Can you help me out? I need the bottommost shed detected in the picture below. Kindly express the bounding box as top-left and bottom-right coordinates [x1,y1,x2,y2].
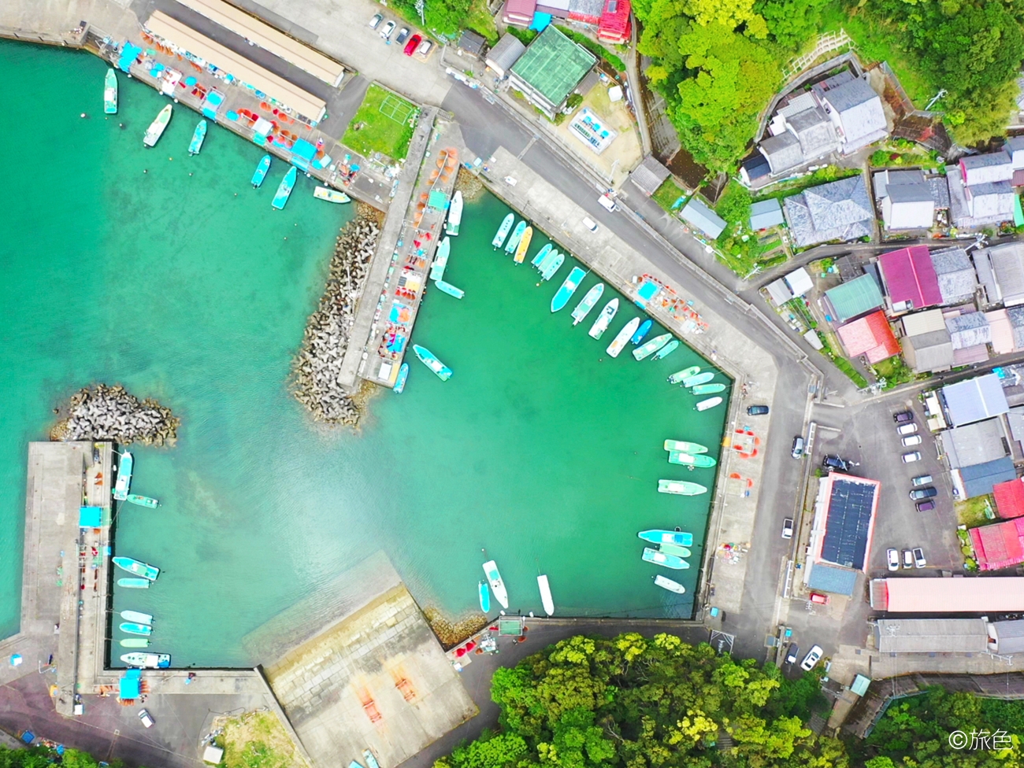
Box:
[202,743,226,765]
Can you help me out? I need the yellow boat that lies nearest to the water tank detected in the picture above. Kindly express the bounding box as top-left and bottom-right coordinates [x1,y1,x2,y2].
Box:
[513,226,532,265]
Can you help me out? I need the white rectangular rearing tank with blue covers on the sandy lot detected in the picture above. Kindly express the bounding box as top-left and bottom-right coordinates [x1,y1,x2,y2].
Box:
[567,108,617,156]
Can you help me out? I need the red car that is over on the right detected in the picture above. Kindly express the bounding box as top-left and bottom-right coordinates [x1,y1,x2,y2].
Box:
[809,591,829,606]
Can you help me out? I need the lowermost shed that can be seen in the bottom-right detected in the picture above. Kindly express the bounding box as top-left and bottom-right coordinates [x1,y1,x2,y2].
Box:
[845,674,871,698]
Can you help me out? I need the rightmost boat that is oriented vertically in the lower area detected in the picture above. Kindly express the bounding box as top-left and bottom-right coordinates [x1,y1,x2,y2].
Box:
[537,574,554,616]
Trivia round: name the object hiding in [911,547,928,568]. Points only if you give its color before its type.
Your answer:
white vehicle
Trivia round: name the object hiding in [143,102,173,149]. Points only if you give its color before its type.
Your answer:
white boat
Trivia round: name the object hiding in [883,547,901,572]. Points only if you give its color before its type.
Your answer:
white car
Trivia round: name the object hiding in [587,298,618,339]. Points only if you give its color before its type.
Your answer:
white boat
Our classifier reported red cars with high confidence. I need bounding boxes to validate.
[809,591,829,606]
[403,34,423,58]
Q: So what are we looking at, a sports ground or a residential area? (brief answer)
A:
residential area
